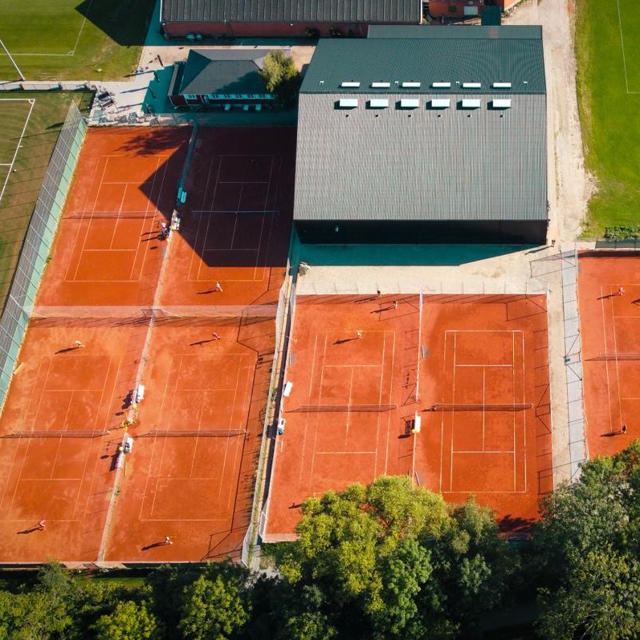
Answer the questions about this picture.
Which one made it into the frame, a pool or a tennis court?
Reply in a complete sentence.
There is a tennis court in the scene.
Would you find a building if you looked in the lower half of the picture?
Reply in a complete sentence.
No, no building can be made out in the lower half of the picture.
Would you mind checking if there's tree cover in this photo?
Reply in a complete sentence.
Yes, some tree cover is visible.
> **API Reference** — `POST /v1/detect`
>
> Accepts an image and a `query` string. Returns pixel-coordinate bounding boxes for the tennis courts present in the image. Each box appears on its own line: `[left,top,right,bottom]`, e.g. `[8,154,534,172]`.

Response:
[150,128,298,319]
[579,250,640,474]
[102,319,279,563]
[0,318,150,563]
[412,295,553,544]
[263,294,422,544]
[32,128,190,319]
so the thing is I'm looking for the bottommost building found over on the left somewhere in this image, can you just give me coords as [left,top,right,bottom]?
[162,50,282,106]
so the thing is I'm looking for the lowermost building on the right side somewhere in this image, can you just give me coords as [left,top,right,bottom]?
[293,25,548,244]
